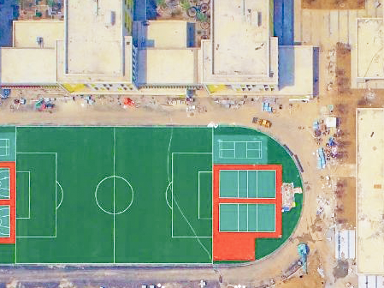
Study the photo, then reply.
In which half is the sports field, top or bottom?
bottom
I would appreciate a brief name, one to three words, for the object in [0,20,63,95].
building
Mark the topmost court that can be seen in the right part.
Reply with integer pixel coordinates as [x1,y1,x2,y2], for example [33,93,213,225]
[213,135,267,164]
